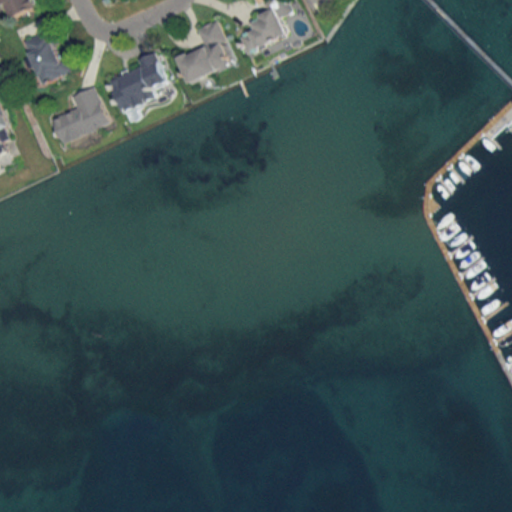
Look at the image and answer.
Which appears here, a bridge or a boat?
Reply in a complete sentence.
It is a boat that can be seen here.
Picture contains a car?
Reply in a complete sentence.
No, no car can be seen from above.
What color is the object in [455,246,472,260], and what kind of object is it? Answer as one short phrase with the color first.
white boat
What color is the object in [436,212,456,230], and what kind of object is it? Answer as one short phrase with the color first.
white boat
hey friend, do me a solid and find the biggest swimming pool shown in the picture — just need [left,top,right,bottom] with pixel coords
[294,19,309,37]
